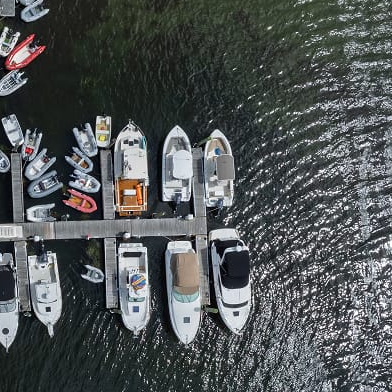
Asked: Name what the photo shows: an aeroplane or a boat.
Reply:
boat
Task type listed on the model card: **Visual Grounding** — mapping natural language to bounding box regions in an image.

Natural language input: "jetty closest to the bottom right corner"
[195,235,209,304]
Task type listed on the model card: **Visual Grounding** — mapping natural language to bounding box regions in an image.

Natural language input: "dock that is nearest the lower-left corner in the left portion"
[14,240,30,312]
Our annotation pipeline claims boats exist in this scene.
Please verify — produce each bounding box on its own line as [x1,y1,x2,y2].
[0,251,19,350]
[96,110,111,148]
[27,203,60,222]
[202,129,233,220]
[0,67,30,96]
[113,122,147,215]
[25,148,58,180]
[159,125,192,215]
[27,241,61,335]
[117,243,149,333]
[76,264,104,280]
[19,126,43,160]
[0,25,21,56]
[0,110,24,145]
[62,150,93,175]
[66,170,100,193]
[207,227,254,334]
[4,32,46,71]
[0,151,10,173]
[22,0,52,22]
[162,240,202,344]
[70,120,100,156]
[28,170,65,199]
[59,188,96,214]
